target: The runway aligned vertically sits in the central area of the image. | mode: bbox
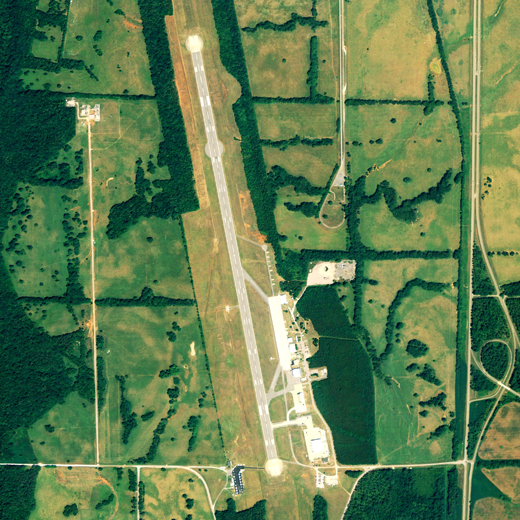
[192,50,278,462]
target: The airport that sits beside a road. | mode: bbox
[186,36,330,476]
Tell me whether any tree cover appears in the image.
Yes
